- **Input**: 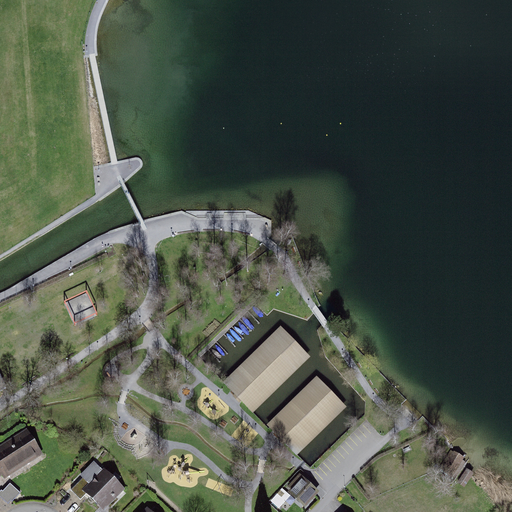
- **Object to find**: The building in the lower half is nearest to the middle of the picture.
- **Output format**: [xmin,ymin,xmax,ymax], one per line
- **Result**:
[224,326,310,412]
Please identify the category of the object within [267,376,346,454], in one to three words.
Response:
building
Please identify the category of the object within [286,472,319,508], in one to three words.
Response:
building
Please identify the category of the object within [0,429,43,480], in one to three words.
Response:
house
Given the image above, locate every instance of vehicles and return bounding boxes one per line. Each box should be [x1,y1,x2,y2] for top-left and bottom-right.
[60,494,70,504]
[68,502,79,512]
